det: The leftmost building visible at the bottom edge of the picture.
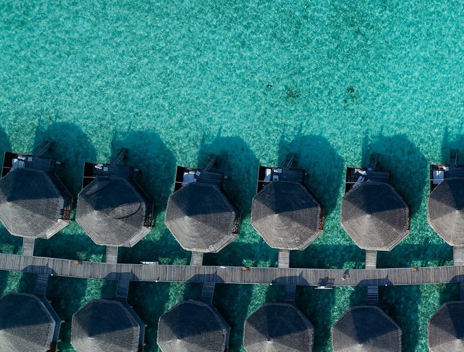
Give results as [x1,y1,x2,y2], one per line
[0,289,72,352]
